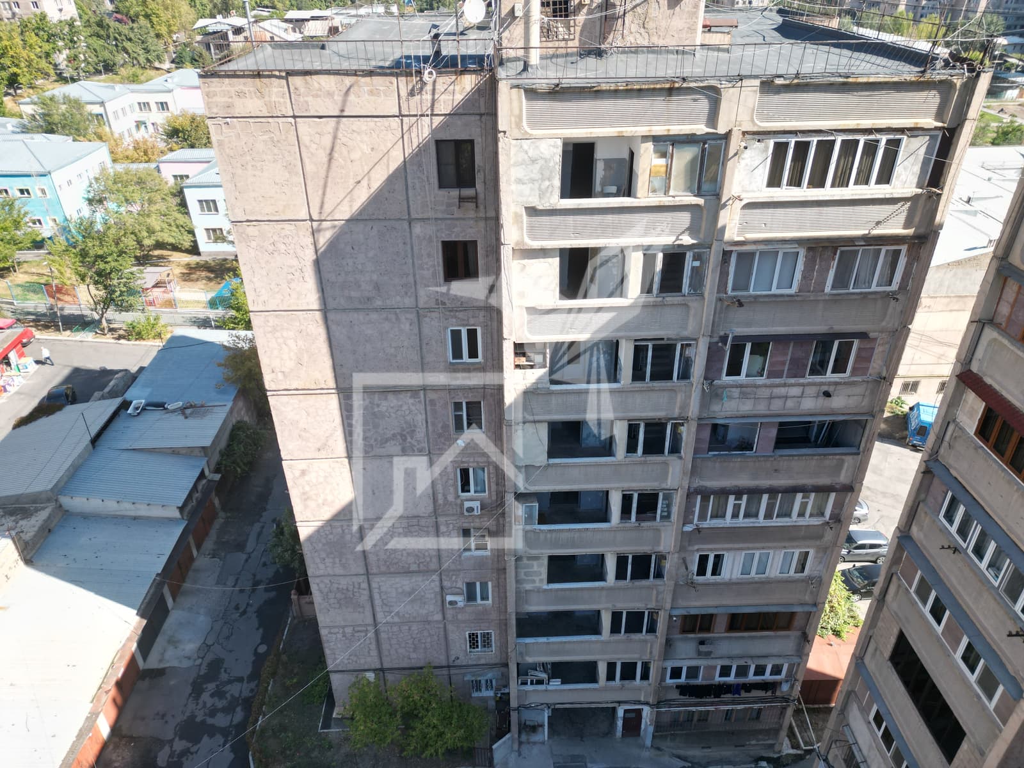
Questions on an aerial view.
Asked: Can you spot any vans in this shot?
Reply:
Yes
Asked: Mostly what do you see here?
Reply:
buildings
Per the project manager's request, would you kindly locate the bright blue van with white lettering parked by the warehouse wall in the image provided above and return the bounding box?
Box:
[904,400,940,447]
